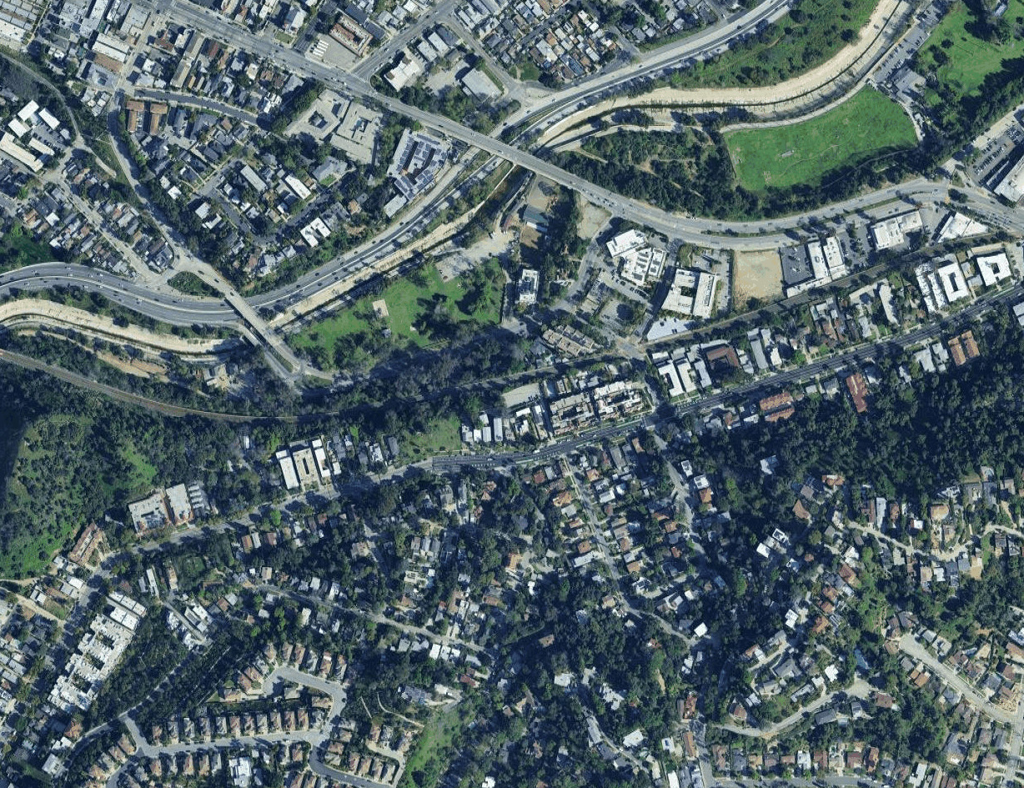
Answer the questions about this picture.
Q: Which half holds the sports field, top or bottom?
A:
top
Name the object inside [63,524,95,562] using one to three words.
building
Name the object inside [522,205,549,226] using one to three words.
barn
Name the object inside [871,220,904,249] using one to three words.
building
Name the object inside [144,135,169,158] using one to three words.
house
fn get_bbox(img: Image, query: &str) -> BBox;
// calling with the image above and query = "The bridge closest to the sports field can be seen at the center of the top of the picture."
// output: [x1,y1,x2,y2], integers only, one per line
[430,112,557,180]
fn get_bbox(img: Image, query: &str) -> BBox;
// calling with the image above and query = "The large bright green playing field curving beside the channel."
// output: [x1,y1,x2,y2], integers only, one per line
[724,88,919,193]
